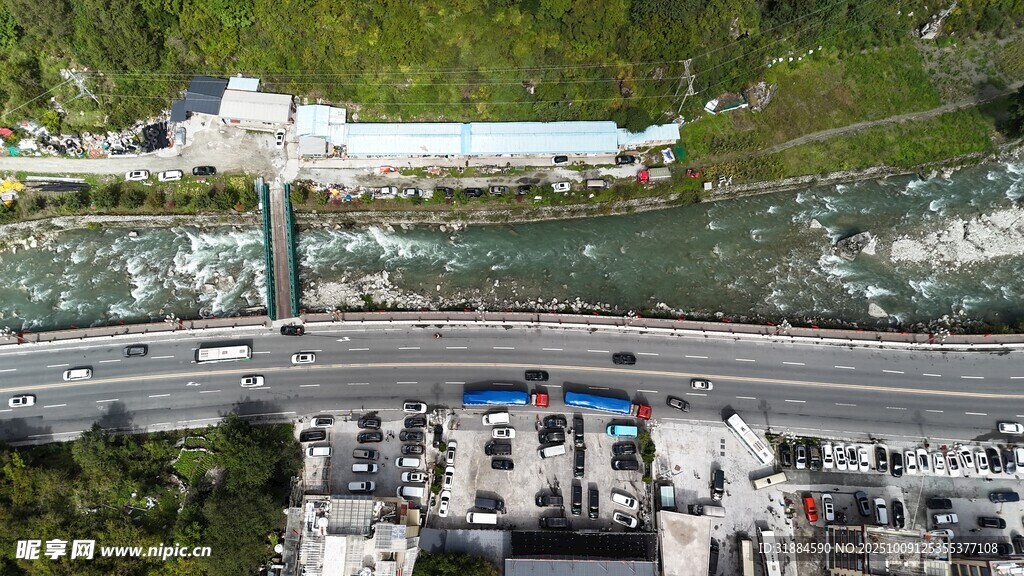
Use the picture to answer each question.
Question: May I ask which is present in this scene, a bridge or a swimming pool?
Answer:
bridge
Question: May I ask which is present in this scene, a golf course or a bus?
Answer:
bus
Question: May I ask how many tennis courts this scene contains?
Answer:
none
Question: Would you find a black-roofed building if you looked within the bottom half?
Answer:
Yes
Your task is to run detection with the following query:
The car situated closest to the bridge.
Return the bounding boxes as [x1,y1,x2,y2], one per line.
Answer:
[280,324,304,336]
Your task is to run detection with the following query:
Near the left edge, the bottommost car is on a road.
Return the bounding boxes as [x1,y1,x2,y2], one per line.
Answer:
[9,394,36,406]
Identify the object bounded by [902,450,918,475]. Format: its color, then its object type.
white car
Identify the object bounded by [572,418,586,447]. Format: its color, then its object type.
black vehicle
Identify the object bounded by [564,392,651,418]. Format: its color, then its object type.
blue truck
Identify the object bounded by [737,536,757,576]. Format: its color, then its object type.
white bus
